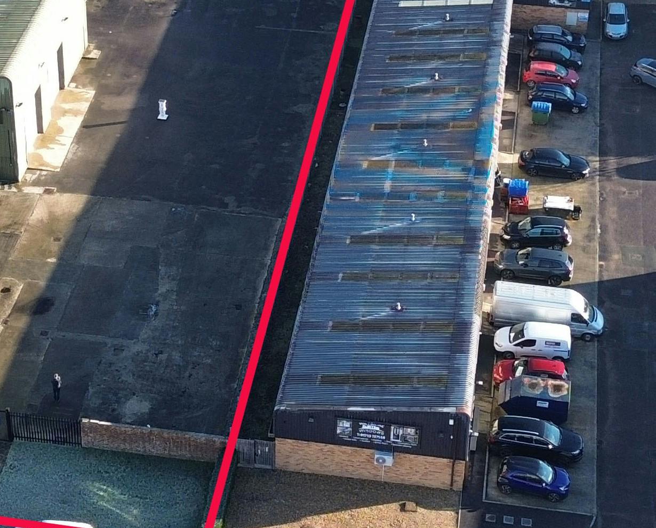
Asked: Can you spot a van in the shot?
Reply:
Yes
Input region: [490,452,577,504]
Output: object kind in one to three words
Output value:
car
